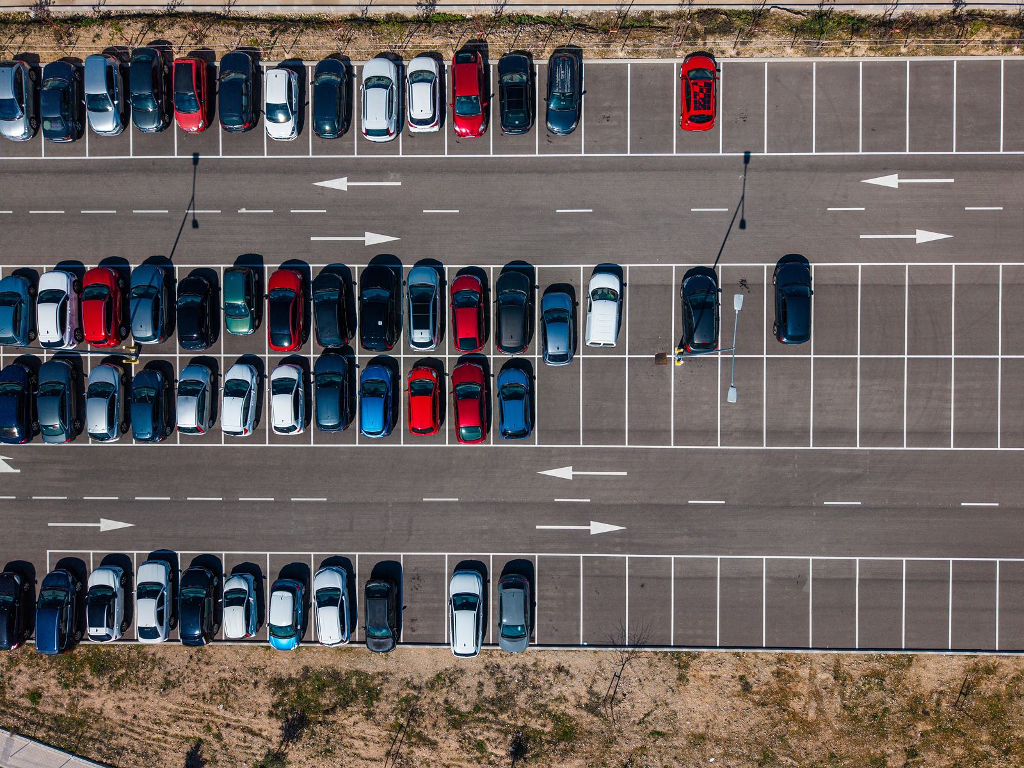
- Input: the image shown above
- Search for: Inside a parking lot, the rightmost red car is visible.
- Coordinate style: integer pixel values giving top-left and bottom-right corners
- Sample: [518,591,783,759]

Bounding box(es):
[679,56,722,133]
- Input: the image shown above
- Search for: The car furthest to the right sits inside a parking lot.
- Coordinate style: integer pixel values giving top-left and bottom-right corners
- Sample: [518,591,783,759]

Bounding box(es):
[772,263,818,345]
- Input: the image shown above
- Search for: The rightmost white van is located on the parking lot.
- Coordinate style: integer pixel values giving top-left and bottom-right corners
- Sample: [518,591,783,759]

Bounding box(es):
[584,274,625,348]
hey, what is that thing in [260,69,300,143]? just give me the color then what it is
white car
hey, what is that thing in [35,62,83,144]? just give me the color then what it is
black car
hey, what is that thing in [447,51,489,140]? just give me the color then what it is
red car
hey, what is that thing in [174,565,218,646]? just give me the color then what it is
black car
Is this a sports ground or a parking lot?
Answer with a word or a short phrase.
parking lot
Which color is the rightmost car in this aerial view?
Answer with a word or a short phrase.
black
